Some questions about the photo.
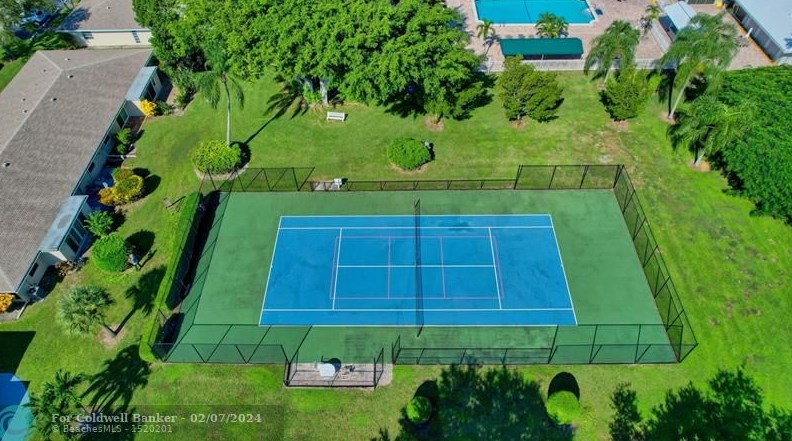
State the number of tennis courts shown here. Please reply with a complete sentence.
In total, 1 tennis court can be seen.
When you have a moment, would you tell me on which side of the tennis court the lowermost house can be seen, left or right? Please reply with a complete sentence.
Looking at the picture, you'll find the lowermost house to the left of the tennis court.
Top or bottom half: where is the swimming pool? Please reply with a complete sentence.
The swimming pool is in the top half of the image.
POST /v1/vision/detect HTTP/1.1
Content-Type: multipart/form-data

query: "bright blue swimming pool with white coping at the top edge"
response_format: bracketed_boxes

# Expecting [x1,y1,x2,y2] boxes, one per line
[474,0,599,23]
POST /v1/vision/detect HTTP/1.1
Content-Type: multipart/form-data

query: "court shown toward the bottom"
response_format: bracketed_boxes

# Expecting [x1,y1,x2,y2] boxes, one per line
[172,189,675,361]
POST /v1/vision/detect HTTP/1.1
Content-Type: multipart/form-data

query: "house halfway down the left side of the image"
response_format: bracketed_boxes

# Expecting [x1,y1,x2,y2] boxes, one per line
[0,49,163,304]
